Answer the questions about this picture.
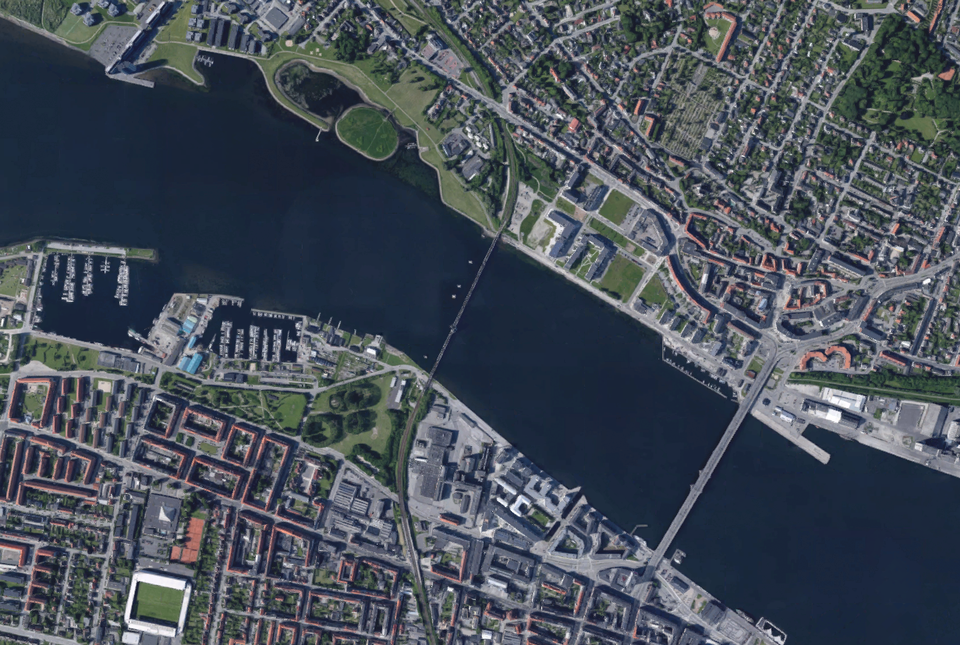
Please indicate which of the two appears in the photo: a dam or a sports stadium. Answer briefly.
sports stadium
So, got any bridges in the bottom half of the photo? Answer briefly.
Yes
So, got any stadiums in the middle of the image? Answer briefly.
No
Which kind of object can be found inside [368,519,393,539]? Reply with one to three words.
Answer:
building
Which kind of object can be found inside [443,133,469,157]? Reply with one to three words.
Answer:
house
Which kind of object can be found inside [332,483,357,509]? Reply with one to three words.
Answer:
building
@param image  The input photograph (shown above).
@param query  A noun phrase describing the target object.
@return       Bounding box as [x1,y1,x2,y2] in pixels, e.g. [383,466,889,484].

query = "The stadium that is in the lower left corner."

[123,571,192,638]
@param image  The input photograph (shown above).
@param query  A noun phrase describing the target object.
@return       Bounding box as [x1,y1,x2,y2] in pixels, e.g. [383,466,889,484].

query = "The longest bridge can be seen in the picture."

[636,339,792,592]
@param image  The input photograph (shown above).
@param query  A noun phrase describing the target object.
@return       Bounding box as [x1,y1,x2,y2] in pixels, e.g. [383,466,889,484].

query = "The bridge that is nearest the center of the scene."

[427,232,501,391]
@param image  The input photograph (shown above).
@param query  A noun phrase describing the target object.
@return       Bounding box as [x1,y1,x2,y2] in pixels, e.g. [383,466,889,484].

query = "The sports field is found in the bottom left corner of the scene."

[133,583,183,622]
